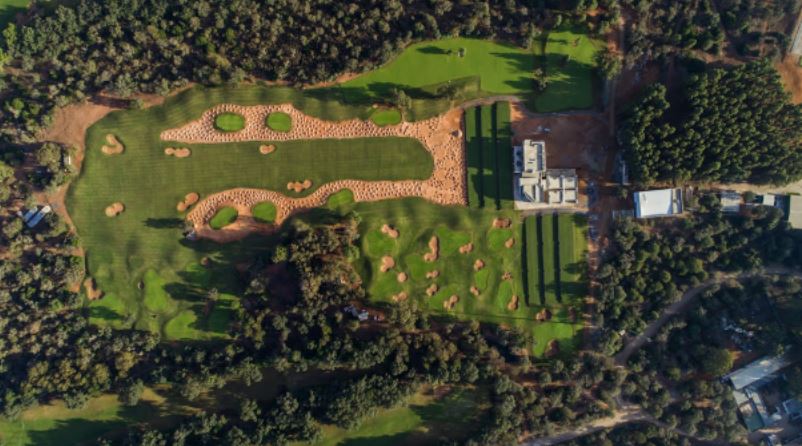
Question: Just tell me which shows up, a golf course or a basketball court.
golf course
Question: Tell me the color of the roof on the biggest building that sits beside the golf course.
white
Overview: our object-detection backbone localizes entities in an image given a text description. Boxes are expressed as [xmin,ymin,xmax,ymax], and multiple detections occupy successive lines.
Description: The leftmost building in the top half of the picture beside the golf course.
[512,140,577,204]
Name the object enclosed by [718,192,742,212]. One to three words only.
house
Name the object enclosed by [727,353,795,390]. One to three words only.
barn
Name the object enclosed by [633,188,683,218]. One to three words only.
shed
